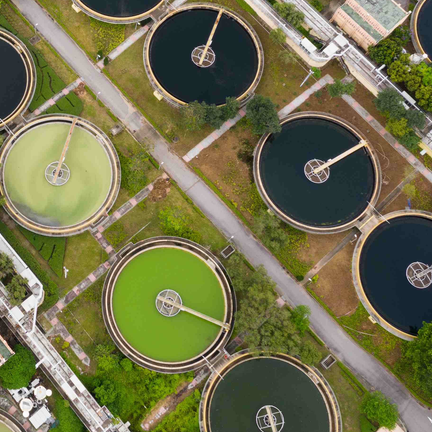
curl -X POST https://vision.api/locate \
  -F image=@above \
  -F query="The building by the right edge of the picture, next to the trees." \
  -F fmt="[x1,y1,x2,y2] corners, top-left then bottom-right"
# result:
[332,0,411,54]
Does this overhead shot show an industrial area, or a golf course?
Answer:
industrial area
